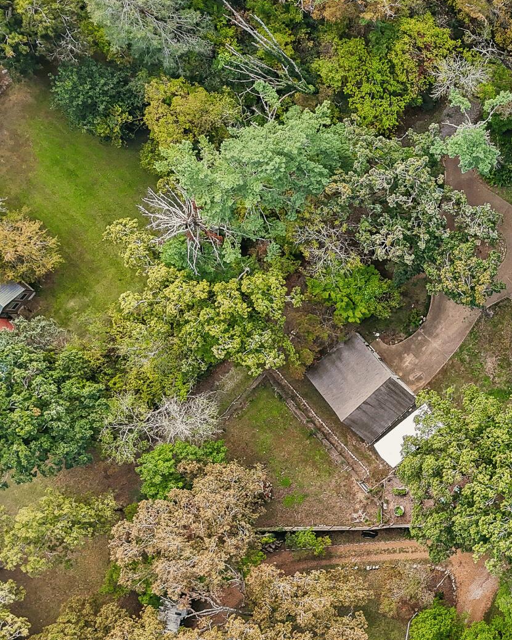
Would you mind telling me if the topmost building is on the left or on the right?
left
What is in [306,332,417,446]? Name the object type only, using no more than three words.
building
